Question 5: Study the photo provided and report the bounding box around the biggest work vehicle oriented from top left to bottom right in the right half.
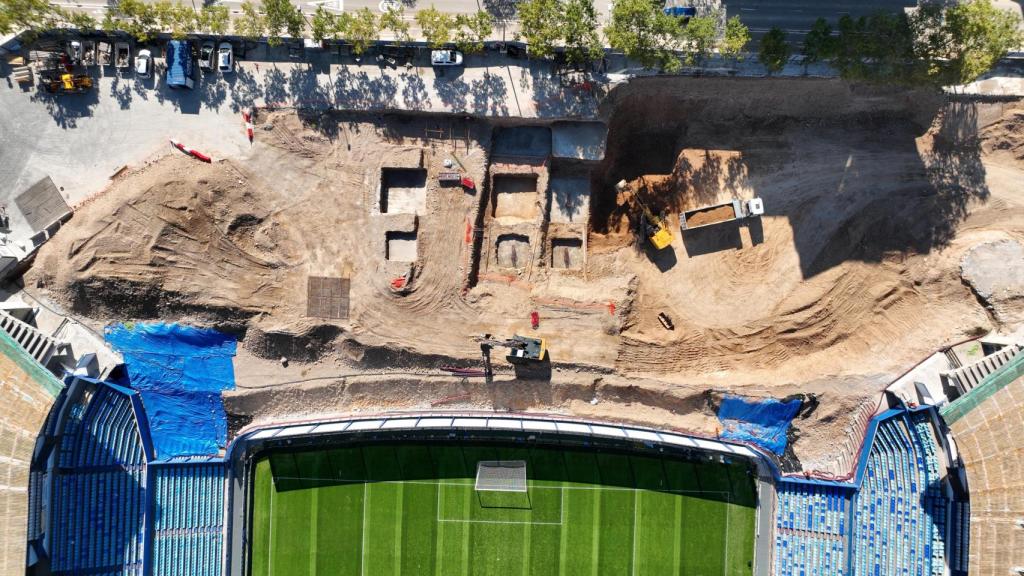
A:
[617,183,676,254]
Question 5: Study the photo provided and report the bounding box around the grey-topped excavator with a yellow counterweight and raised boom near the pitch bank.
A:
[484,333,546,360]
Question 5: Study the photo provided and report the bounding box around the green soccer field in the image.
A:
[253,443,757,576]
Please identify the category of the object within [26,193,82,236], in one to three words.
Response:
building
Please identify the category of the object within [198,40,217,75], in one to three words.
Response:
car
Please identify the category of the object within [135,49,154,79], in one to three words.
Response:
car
